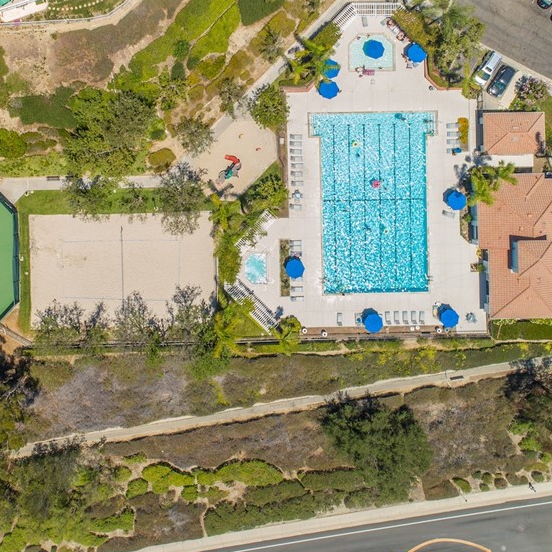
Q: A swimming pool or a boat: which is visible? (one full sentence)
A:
Visible in the photo is a swimming pool.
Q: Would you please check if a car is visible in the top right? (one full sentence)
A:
Yes, a car appears in the top right.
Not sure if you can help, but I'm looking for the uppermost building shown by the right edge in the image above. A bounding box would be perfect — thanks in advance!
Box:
[477,111,545,156]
